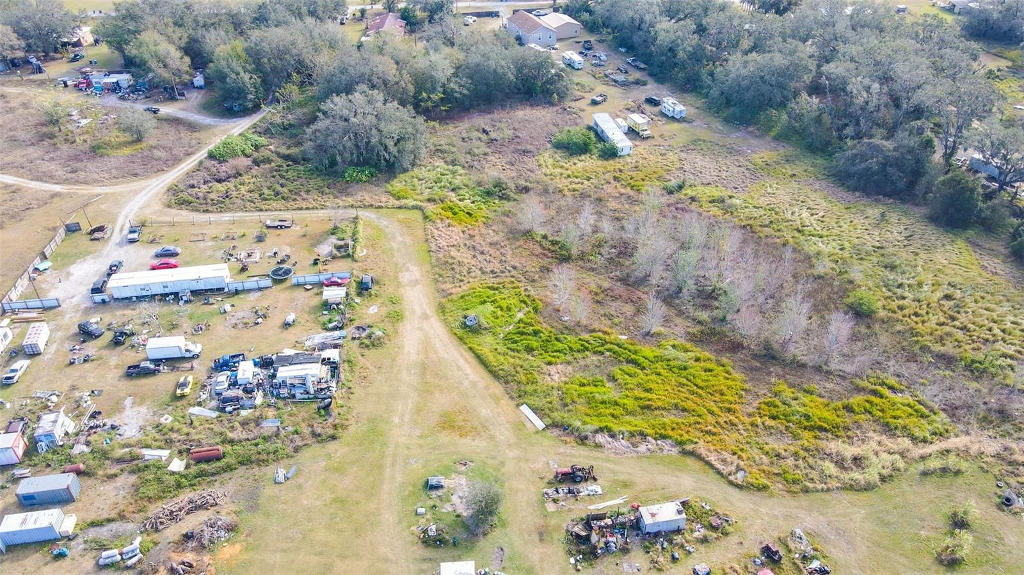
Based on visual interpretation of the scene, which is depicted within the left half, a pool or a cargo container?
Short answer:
cargo container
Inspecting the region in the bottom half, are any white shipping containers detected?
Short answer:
Yes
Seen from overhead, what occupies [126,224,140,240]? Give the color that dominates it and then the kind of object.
white vehicle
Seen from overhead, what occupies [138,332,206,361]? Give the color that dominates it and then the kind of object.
white truck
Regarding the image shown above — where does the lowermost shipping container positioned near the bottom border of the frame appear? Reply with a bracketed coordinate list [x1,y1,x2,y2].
[0,504,69,553]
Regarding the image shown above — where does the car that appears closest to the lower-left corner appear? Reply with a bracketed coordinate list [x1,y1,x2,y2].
[0,357,37,384]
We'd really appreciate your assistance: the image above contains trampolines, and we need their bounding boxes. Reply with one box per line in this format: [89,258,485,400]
[268,269,294,285]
